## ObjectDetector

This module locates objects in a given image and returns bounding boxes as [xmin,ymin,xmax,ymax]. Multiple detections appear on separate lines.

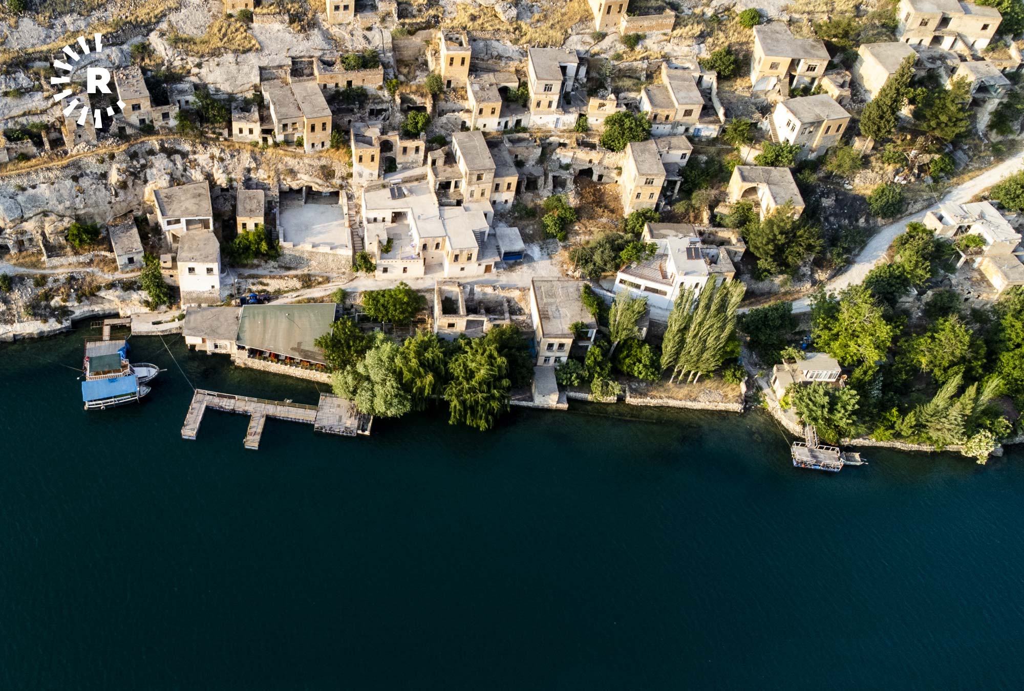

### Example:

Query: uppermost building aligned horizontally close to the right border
[897,0,1004,50]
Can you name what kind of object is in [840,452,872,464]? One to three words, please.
boat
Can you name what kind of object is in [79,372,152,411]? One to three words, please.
boat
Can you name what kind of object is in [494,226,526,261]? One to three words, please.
shed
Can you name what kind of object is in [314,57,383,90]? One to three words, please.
house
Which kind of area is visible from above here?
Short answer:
residential area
